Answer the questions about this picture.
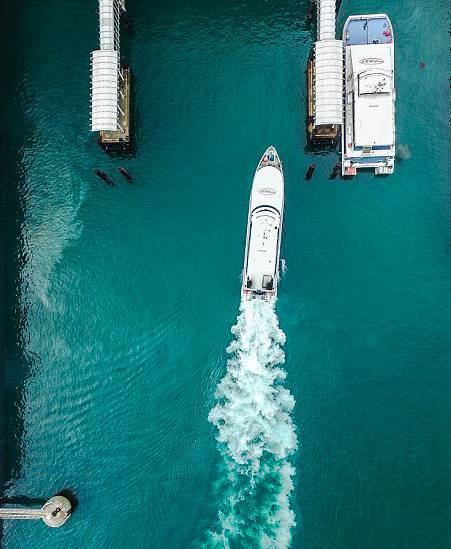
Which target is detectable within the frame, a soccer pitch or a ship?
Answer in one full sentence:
It is a ship that can be seen here.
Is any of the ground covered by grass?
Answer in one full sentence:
No, the picture contains no grass.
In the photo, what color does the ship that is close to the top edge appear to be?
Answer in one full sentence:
In this view, the ship that is close to the top edge is white.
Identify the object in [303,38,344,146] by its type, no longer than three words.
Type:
pier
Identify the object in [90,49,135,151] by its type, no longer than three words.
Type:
pier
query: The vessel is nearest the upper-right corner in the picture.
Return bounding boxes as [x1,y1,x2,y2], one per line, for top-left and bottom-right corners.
[337,10,396,178]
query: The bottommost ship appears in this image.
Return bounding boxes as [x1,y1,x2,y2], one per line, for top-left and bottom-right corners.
[241,145,284,301]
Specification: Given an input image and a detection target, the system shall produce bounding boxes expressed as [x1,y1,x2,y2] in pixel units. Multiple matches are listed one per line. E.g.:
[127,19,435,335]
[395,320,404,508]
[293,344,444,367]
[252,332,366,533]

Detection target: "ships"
[241,145,284,301]
[337,10,396,178]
